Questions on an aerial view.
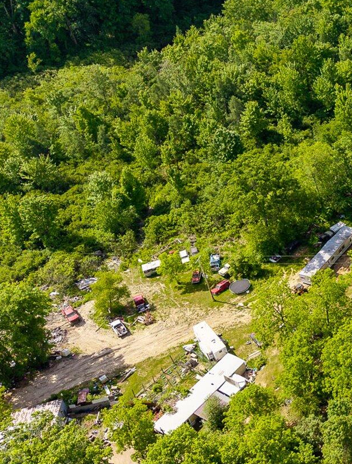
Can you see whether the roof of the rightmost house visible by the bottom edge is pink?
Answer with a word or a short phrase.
No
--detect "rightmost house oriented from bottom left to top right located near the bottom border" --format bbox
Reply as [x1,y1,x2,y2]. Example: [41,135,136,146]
[153,352,250,445]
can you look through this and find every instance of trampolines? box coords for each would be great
[228,279,251,295]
